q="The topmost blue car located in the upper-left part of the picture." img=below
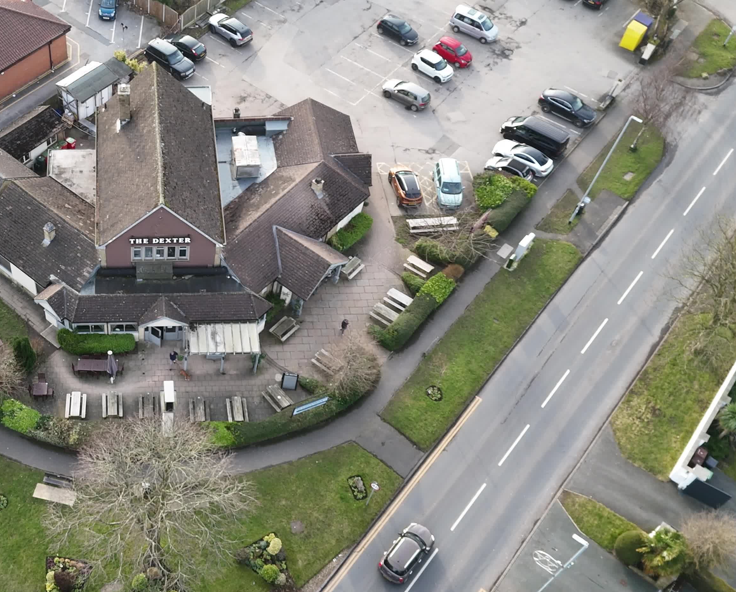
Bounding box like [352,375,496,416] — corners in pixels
[98,0,119,21]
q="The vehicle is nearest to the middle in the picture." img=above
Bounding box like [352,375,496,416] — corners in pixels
[386,164,423,208]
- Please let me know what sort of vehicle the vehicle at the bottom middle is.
automobile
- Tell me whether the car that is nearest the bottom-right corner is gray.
Yes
